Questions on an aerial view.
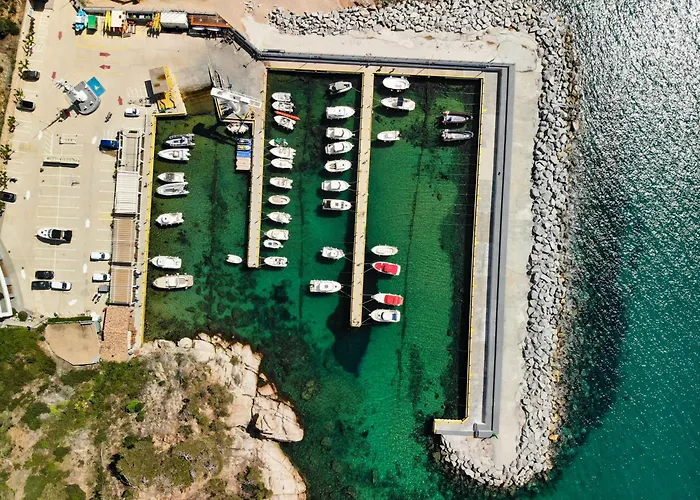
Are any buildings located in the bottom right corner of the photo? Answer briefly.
No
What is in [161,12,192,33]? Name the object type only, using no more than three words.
shed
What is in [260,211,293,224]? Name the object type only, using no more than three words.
boat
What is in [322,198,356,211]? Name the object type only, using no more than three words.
boat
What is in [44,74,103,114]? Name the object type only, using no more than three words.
building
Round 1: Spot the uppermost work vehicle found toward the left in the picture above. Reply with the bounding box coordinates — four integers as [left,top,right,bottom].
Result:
[75,10,89,29]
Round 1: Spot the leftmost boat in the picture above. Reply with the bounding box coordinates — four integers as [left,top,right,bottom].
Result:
[36,231,75,243]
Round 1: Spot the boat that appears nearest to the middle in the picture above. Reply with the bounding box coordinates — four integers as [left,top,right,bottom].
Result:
[319,245,355,261]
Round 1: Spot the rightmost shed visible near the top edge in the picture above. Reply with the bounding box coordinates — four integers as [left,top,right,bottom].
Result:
[190,14,230,32]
